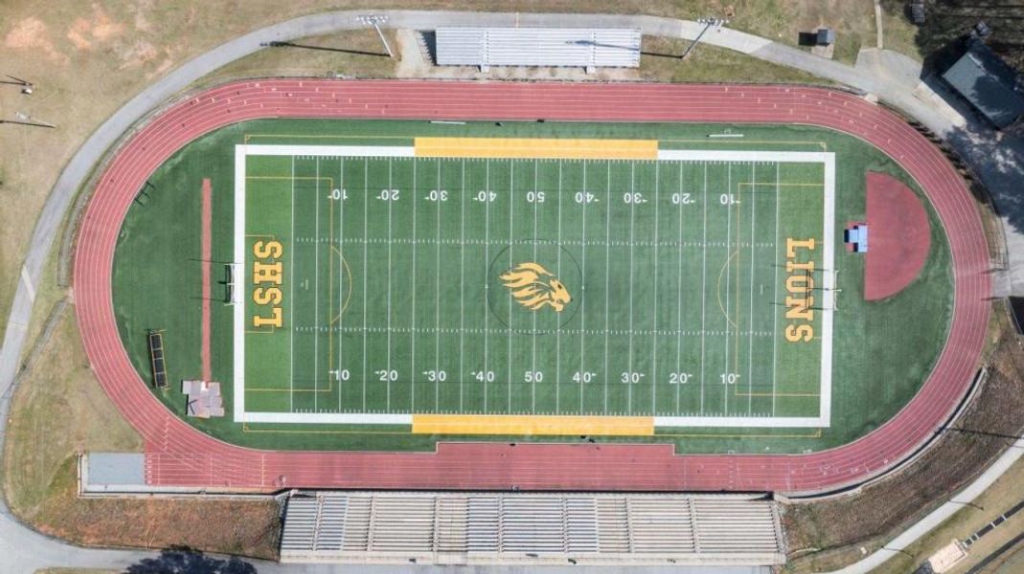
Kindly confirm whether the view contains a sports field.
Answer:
Yes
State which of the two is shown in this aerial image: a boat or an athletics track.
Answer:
athletics track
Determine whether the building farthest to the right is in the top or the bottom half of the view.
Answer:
top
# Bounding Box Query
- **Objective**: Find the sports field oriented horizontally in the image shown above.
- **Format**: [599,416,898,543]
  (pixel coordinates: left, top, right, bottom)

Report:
[113,116,954,456]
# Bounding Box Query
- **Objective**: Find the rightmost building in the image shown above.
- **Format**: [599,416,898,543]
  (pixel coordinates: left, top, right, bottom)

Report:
[941,38,1024,127]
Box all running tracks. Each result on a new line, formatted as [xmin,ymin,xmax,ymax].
[74,77,993,494]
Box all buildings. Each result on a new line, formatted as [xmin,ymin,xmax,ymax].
[941,38,1024,127]
[812,28,830,46]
